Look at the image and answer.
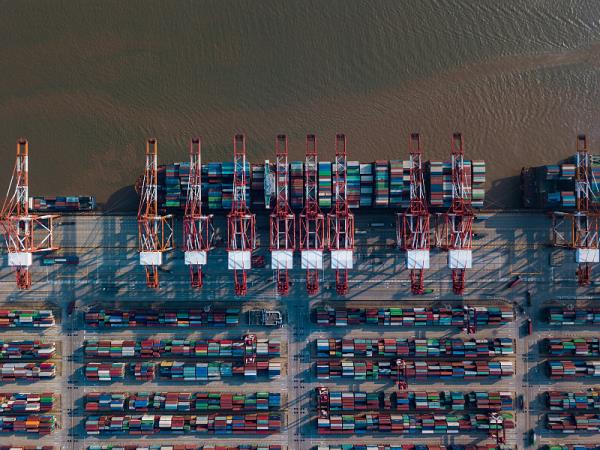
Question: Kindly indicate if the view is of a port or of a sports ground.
port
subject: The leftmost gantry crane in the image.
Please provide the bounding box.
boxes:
[0,138,66,291]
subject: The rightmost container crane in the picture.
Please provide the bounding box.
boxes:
[538,138,600,291]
